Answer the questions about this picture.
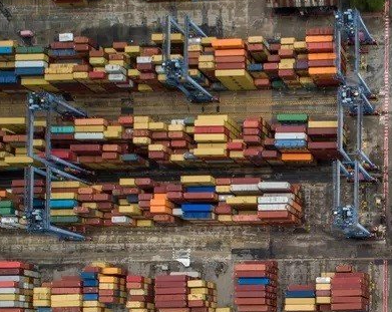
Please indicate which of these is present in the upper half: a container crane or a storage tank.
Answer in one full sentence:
Looking in the upper half, you will find a container crane.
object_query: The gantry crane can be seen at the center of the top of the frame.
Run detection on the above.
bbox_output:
[164,11,215,99]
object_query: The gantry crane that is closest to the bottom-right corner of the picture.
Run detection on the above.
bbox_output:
[333,158,371,239]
